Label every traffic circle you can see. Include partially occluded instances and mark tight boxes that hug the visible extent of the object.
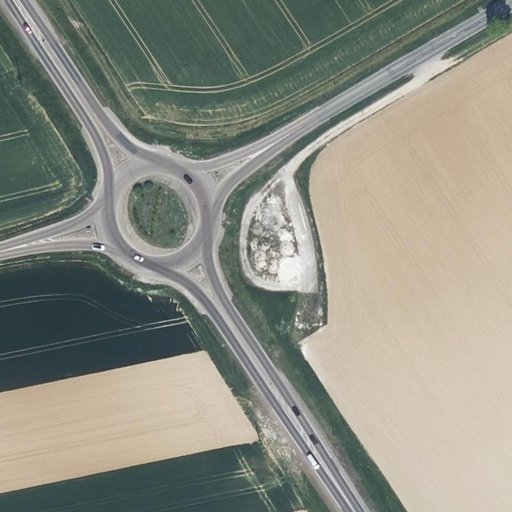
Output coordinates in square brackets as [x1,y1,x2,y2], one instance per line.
[98,156,218,274]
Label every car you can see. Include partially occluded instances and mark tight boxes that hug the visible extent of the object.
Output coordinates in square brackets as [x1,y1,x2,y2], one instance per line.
[182,173,194,185]
[291,405,302,418]
[308,434,319,446]
[134,254,144,262]
[22,22,32,34]
[92,244,105,250]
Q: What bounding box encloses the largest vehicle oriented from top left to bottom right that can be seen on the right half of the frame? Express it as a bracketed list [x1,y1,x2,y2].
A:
[306,452,320,470]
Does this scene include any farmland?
Yes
